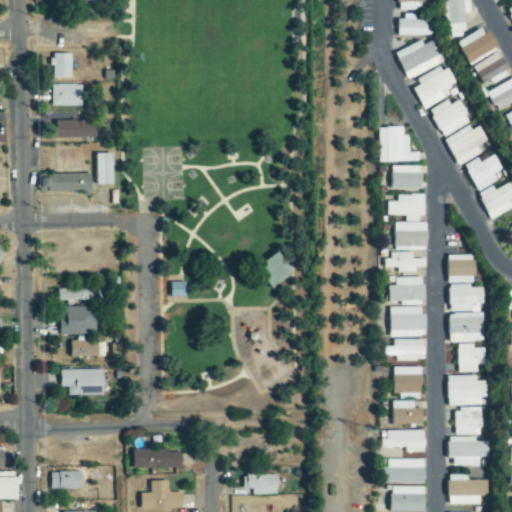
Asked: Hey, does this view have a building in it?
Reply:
Yes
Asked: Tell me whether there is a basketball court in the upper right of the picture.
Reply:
No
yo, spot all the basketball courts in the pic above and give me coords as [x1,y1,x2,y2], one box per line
[143,173,183,199]
[143,147,183,176]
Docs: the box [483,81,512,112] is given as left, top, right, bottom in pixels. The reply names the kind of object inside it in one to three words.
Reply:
house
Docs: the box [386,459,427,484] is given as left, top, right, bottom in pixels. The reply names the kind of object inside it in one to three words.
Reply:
house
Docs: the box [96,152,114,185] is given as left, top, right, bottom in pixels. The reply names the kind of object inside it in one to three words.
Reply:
barn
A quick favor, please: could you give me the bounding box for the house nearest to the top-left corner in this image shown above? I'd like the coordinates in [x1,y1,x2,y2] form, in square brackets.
[52,52,73,78]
